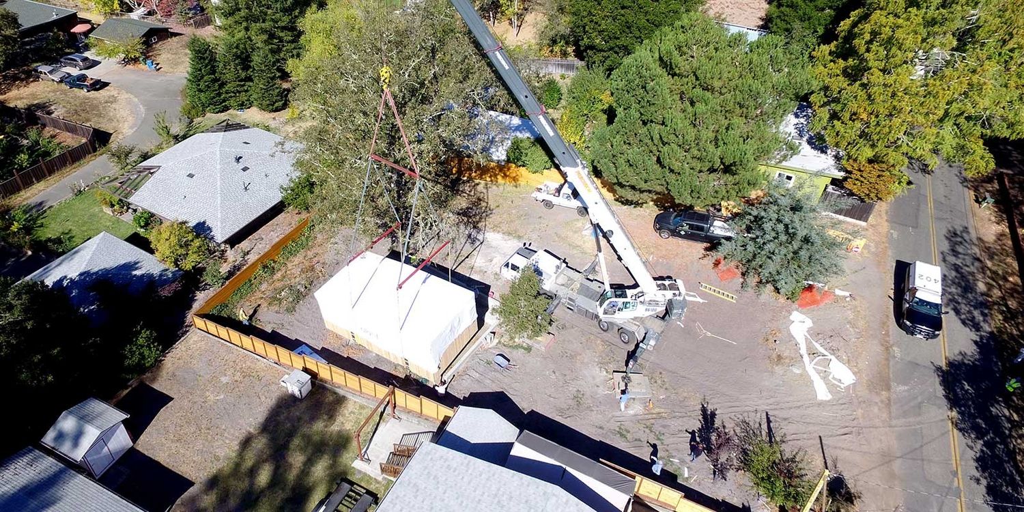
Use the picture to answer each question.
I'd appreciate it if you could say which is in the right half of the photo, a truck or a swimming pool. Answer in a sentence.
What appears in the right half of the photo is a truck.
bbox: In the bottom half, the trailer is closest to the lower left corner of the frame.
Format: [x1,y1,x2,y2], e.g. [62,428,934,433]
[294,473,380,512]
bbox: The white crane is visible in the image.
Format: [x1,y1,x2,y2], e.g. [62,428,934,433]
[444,0,709,382]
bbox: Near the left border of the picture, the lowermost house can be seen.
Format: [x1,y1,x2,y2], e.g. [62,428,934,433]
[0,447,136,512]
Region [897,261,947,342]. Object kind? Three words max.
truck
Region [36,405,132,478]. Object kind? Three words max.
shed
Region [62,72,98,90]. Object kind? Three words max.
vehicle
